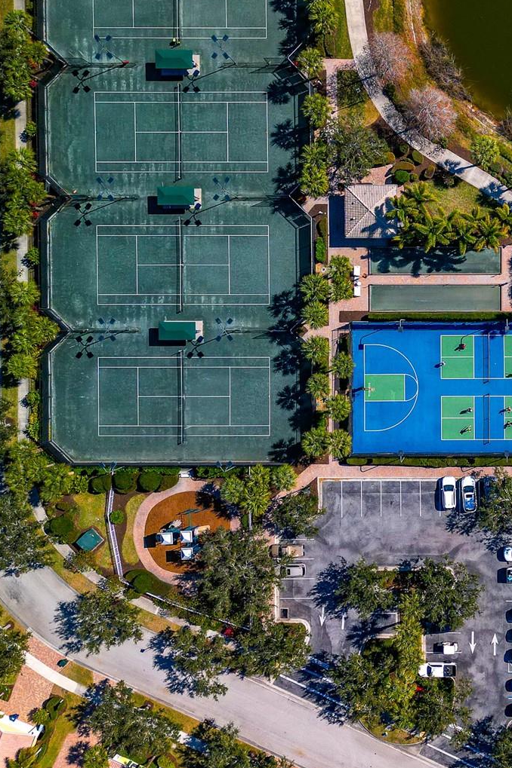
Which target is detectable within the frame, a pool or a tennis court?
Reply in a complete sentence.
There is a tennis court in the scene.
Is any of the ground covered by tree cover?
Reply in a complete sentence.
Yes, there is tree cover in the image.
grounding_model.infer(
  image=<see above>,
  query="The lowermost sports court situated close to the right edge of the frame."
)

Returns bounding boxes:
[352,322,512,456]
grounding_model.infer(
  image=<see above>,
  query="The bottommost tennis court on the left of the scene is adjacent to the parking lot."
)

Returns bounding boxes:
[51,330,316,464]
